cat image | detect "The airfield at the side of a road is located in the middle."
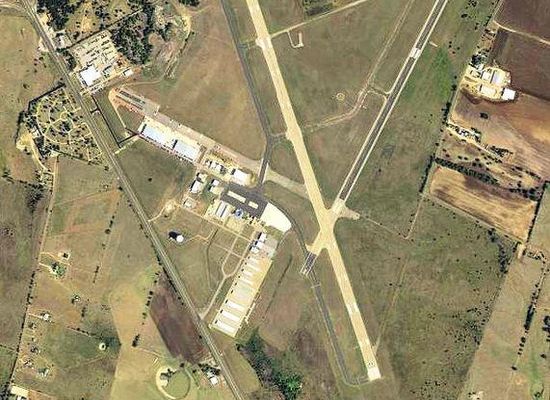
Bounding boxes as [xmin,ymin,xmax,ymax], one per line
[116,0,447,383]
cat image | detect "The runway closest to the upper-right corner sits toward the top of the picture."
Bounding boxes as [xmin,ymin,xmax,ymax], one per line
[338,0,447,205]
